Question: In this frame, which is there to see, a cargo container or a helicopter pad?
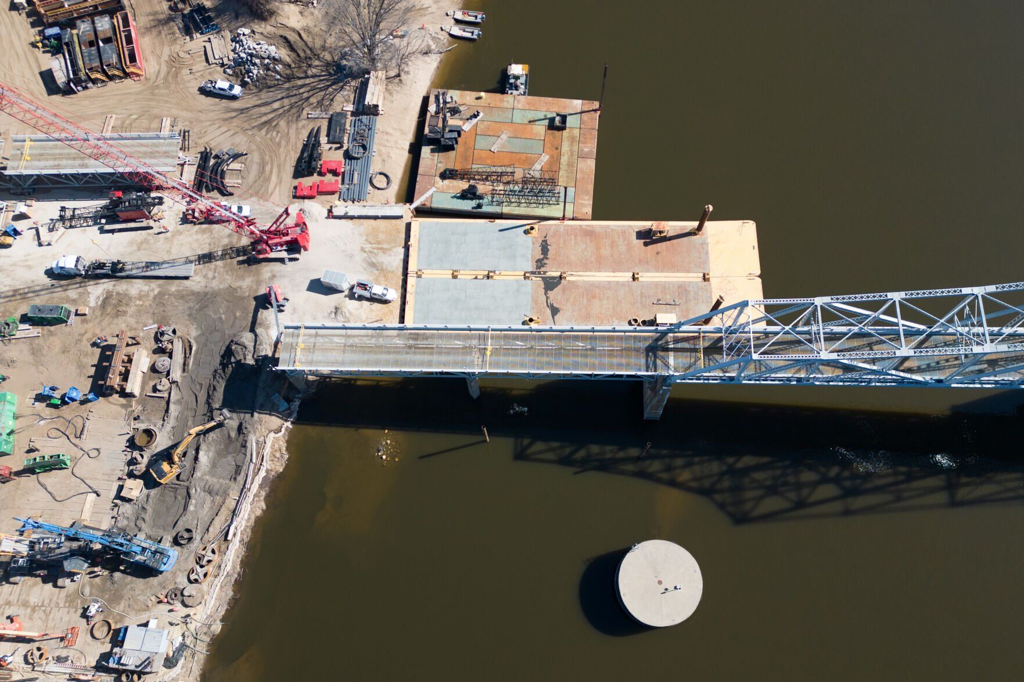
cargo container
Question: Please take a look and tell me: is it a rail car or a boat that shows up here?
boat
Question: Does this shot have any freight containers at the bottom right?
No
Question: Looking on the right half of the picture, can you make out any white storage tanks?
No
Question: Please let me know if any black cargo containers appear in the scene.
Yes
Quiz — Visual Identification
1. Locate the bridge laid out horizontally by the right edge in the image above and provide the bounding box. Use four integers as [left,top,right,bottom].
[666,282,1024,392]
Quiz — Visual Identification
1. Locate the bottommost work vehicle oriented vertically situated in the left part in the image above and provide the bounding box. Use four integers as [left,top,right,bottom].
[266,284,287,352]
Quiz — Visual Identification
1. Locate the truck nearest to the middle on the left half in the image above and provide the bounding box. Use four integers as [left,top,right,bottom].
[348,276,401,304]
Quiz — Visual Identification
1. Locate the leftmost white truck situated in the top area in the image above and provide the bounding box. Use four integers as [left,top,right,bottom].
[50,254,87,276]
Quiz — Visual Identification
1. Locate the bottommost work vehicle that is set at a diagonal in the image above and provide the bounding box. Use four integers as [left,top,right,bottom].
[150,410,237,485]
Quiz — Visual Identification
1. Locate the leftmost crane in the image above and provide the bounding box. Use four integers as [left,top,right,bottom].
[0,520,100,585]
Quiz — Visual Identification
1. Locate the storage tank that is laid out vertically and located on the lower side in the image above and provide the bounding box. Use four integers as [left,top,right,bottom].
[0,392,28,457]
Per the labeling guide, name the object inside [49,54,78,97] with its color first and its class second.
white storage tank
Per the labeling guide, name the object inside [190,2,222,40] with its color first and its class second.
black shipping container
